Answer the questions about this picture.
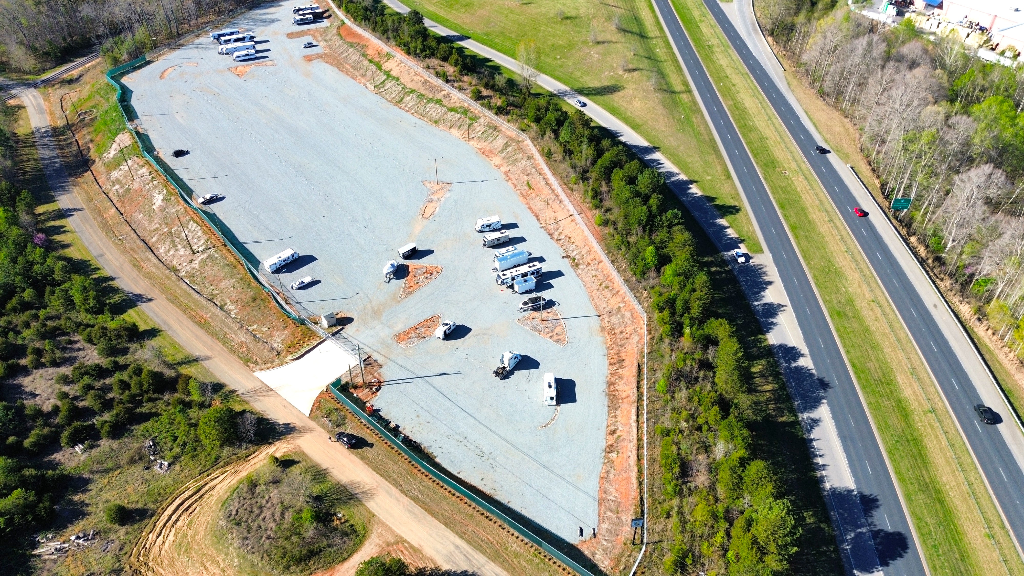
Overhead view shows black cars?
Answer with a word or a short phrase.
Yes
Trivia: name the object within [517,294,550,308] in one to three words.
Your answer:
boat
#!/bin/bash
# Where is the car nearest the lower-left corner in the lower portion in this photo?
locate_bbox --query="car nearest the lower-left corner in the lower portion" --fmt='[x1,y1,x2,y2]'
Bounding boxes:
[334,430,355,448]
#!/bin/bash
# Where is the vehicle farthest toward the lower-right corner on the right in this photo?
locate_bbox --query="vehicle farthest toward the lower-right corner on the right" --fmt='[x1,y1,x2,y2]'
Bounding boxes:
[977,403,996,422]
